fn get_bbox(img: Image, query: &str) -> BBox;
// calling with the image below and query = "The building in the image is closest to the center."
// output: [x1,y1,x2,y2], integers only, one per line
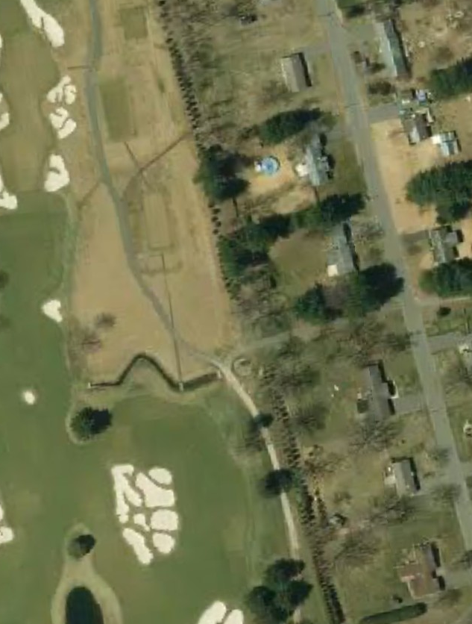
[329,223,355,276]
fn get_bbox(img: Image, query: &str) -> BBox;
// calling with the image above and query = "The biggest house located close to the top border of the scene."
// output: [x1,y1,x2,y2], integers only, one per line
[376,21,406,76]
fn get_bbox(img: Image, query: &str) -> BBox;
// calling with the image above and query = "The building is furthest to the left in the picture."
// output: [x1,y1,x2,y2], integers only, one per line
[283,54,308,90]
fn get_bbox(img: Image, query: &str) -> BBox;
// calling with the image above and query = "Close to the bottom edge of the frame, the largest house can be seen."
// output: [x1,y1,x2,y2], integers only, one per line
[400,544,441,600]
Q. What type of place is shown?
golf course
